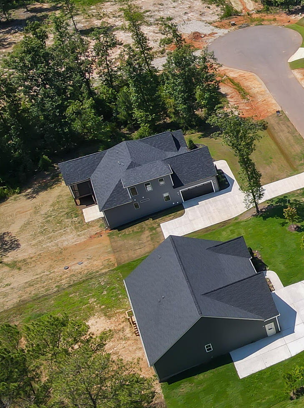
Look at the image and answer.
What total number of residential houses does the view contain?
two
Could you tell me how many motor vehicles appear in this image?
zero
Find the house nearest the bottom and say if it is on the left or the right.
right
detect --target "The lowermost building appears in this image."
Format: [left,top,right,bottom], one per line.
[124,234,283,382]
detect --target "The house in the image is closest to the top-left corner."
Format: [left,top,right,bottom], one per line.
[56,130,221,229]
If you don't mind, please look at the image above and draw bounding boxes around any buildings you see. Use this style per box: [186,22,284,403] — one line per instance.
[56,130,221,229]
[124,234,283,382]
